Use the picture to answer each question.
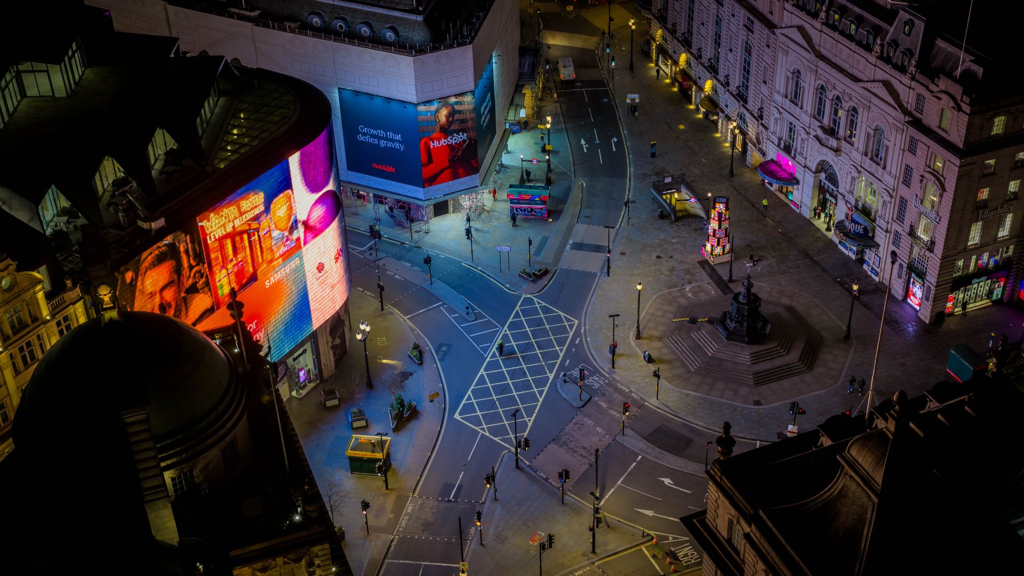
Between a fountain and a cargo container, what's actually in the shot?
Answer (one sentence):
Of the two, only a fountain appears.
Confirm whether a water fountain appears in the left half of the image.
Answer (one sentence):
No, I see no water fountain in the left half of the image.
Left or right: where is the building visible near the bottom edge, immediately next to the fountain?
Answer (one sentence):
You can find the building visible near the bottom edge, immediately next to the fountain on the right side of the picture.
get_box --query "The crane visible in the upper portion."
[103,172,164,229]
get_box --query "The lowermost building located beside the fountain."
[678,348,1024,576]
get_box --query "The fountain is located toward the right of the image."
[663,255,823,384]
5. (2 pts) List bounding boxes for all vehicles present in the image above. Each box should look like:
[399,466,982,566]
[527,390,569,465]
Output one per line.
[559,53,574,77]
